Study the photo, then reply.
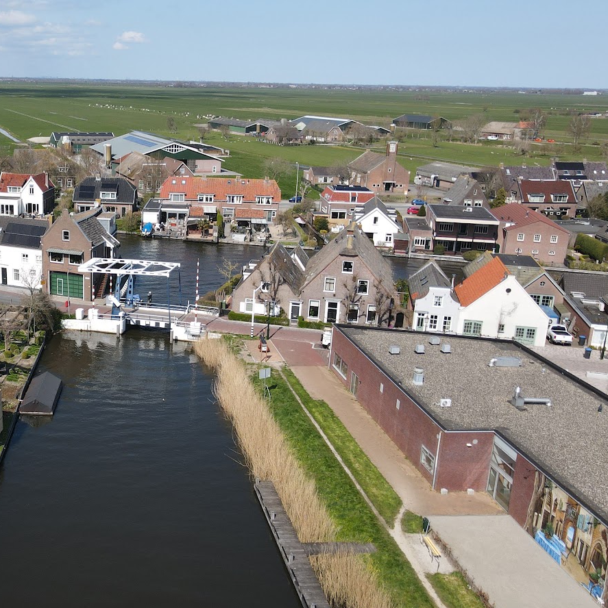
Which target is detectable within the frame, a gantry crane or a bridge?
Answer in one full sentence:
The one in the frame is a bridge.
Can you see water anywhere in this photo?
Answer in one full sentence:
Yes, there is water in the image.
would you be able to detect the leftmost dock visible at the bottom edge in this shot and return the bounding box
[253,478,334,608]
